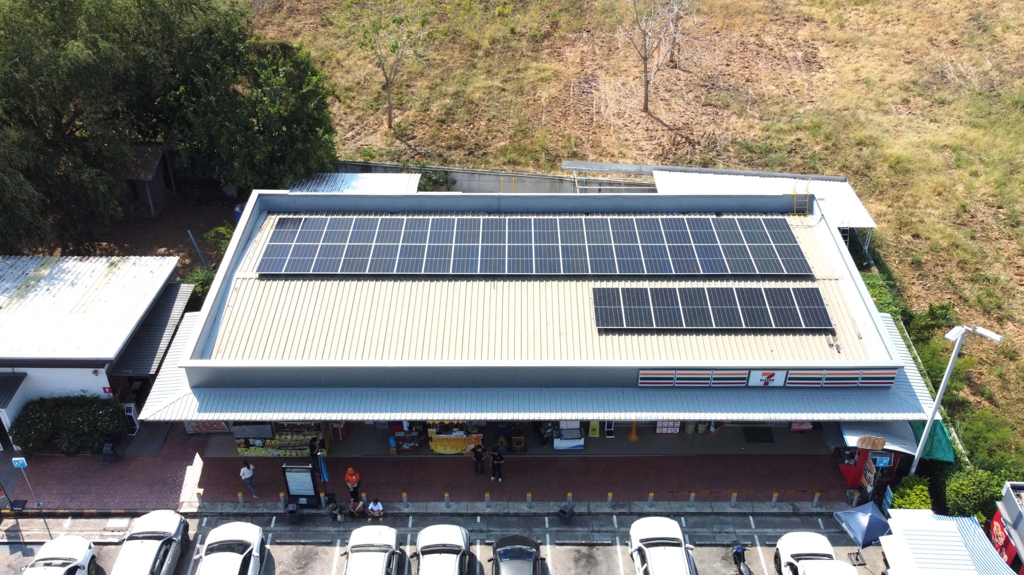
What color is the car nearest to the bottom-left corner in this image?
white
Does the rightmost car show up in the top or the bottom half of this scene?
bottom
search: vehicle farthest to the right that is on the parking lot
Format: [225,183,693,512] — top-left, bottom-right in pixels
[782,531,855,575]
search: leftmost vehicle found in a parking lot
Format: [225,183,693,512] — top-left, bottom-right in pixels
[17,534,91,575]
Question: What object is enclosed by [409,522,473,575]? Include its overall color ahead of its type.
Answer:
white car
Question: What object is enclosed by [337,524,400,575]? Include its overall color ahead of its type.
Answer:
white car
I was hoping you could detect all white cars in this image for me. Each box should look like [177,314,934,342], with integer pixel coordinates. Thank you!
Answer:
[337,524,400,575]
[630,516,697,575]
[105,510,184,575]
[17,534,91,575]
[409,522,473,575]
[782,531,855,575]
[192,521,259,575]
